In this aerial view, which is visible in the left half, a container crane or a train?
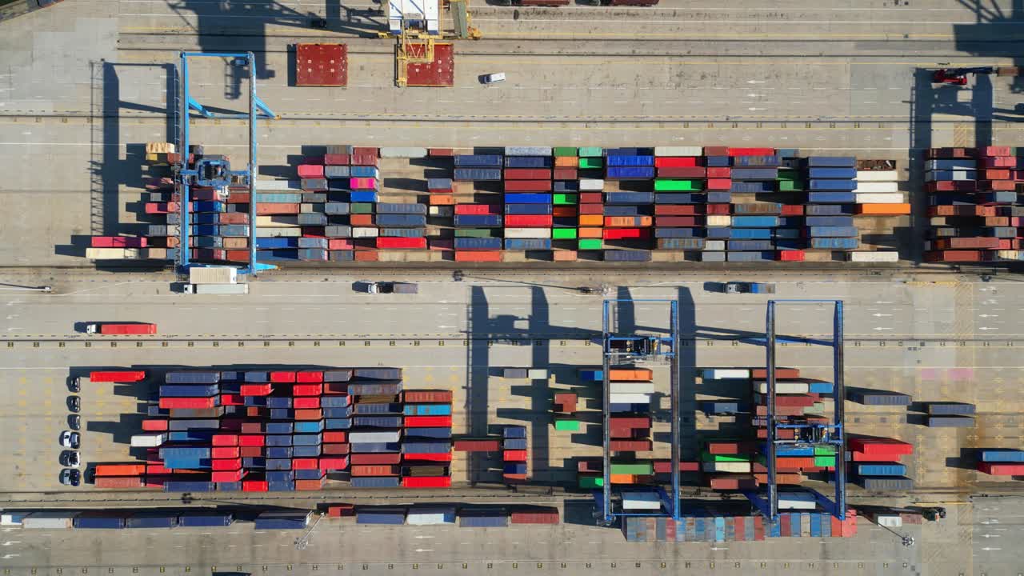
container crane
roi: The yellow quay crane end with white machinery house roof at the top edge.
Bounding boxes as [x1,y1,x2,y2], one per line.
[374,0,480,86]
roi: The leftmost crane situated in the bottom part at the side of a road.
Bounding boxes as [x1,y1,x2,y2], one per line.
[581,300,678,522]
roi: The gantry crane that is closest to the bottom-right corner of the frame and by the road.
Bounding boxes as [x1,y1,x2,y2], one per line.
[729,300,842,522]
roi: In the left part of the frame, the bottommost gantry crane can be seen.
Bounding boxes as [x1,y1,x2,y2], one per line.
[173,52,285,283]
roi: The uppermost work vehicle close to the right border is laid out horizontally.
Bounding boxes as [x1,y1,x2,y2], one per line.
[936,59,1012,86]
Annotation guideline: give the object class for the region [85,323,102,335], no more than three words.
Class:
vehicle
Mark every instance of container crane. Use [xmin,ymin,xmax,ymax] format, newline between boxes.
[374,0,480,86]
[581,300,678,522]
[173,52,285,283]
[729,300,842,522]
